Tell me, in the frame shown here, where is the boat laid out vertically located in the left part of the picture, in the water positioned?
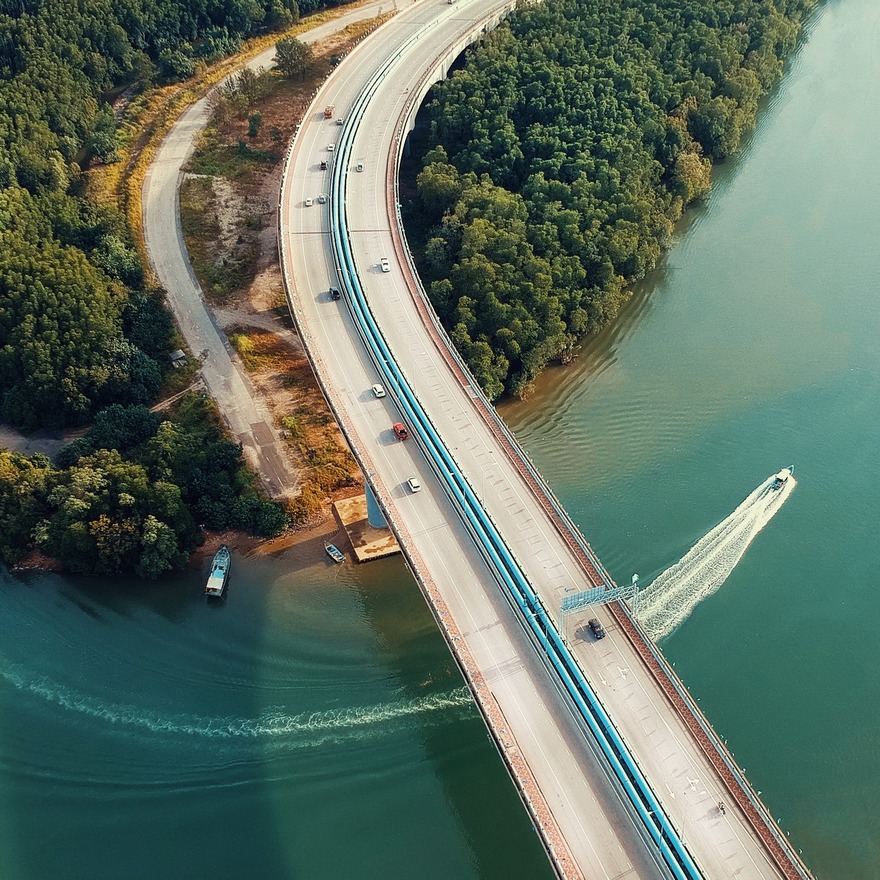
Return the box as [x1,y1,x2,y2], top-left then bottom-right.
[208,547,229,605]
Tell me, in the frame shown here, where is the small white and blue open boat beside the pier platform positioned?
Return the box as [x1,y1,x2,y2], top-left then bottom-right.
[321,541,367,572]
